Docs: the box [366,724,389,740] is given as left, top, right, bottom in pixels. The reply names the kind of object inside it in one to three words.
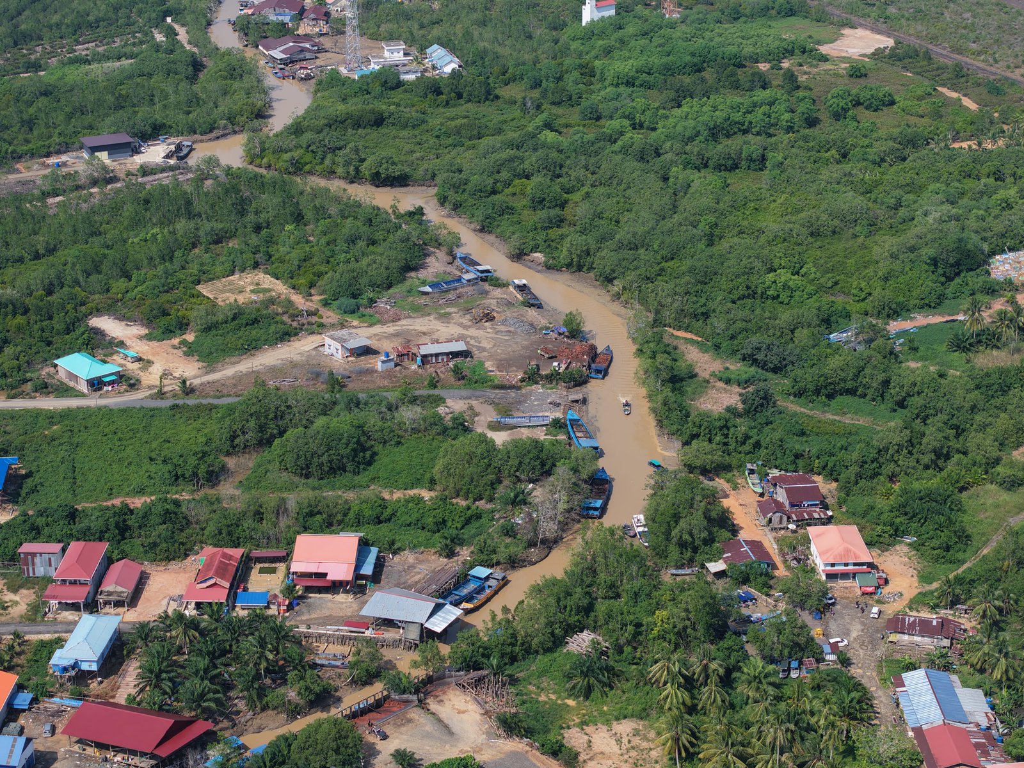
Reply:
vehicle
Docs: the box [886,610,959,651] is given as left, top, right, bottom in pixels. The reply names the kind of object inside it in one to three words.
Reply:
shed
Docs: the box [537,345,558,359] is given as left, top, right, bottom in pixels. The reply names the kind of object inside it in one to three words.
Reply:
vehicle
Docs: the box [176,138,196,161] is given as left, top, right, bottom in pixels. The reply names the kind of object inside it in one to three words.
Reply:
ship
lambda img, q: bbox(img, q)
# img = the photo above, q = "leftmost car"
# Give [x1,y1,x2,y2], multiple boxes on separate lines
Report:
[40,721,56,739]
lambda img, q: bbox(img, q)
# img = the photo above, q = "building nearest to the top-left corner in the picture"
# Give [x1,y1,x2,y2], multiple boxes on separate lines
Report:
[85,131,145,159]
